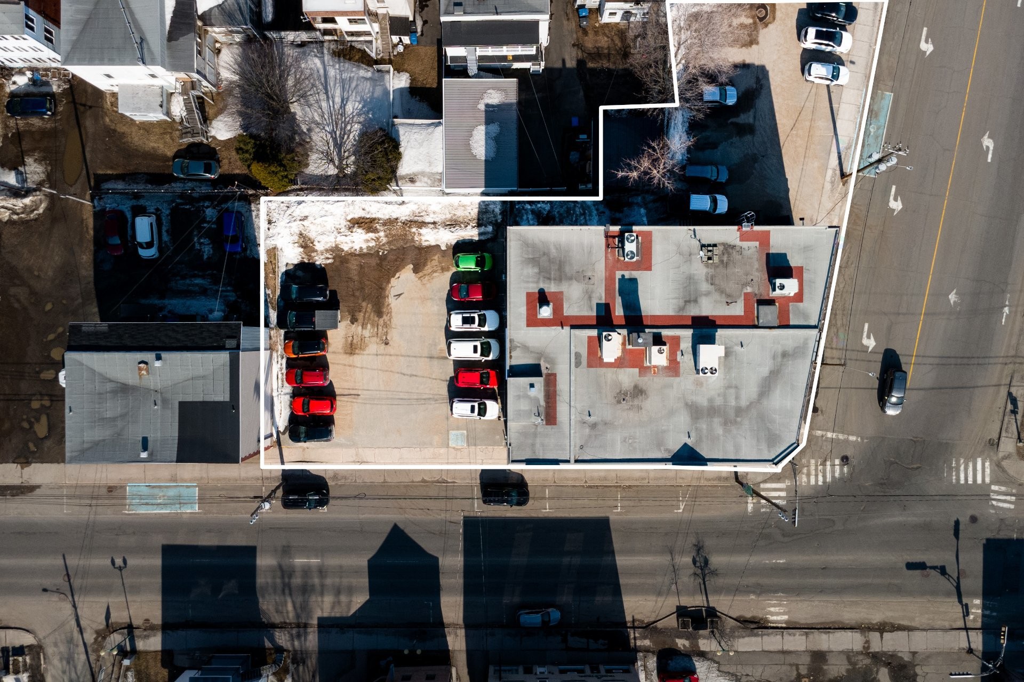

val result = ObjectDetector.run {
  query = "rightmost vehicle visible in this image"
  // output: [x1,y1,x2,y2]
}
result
[878,368,905,416]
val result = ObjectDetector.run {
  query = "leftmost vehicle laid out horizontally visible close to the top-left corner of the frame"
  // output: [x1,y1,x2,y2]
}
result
[7,95,56,119]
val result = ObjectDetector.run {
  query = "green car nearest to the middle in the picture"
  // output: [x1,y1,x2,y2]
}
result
[453,251,493,273]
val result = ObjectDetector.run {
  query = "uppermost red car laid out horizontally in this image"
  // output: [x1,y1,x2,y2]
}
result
[451,280,497,303]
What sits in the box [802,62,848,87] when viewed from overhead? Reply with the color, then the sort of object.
white car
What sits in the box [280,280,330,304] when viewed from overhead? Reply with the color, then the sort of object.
black car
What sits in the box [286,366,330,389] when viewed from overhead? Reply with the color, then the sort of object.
red car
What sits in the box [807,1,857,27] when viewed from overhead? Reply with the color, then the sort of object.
black car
